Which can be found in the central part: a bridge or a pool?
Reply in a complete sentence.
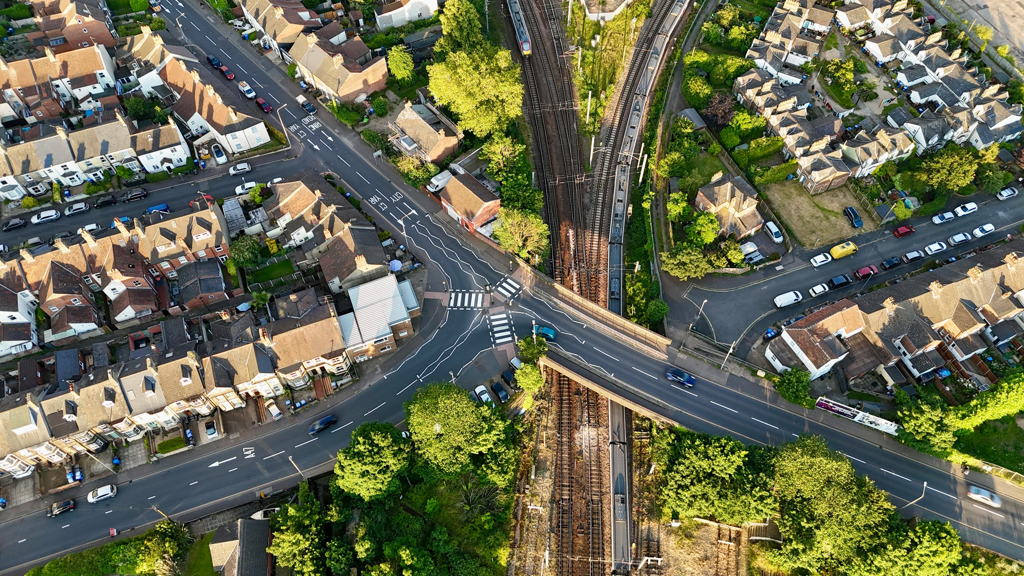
The one visible in the central part is a bridge.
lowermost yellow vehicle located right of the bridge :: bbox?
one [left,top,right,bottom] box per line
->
[830,241,860,259]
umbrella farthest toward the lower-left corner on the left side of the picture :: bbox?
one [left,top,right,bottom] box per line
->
[236,301,251,314]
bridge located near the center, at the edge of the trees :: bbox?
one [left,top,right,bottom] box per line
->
[505,250,692,433]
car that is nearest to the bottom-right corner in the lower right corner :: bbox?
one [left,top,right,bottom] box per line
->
[968,487,1001,508]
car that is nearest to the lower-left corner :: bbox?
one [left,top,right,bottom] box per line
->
[47,497,76,518]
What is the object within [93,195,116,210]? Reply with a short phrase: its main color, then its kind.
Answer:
black car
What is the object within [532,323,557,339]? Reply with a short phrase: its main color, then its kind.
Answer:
blue car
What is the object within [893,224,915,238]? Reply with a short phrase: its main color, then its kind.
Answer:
red car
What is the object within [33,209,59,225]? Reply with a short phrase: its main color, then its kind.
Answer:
white car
